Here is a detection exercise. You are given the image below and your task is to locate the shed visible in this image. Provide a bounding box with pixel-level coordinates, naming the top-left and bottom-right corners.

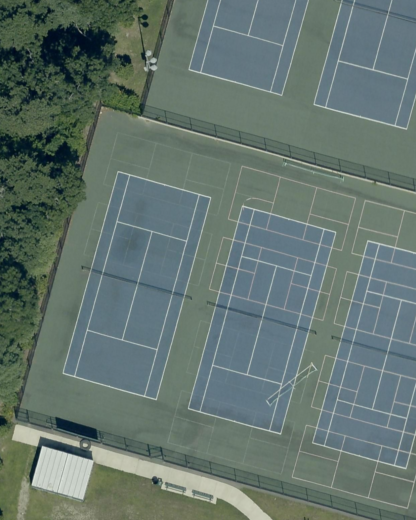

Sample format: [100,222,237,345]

[32,446,94,502]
